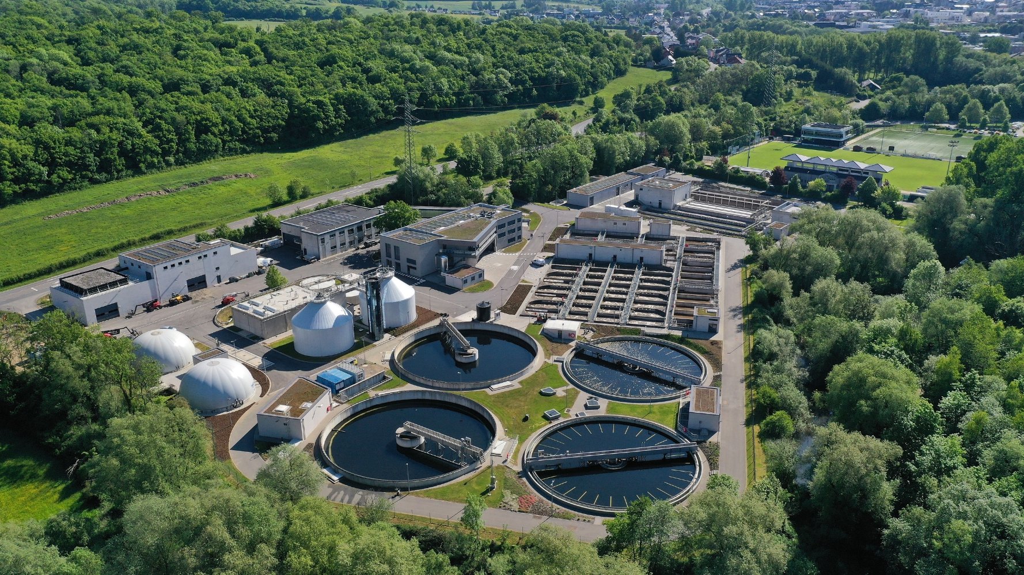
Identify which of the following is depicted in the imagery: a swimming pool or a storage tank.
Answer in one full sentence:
This aerial view contains a storage tank.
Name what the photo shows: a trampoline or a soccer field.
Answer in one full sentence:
It is a soccer field that can be seen here.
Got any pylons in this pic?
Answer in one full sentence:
Yes, there is a pylon in the image.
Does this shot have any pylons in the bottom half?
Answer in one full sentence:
No, the scene shows no pylon in the bottom half.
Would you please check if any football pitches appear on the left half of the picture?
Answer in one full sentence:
No, I see no football pitch on the left half of the picture.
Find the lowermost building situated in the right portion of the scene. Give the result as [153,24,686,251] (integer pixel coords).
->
[675,384,722,438]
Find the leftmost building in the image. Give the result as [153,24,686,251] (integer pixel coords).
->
[53,238,258,325]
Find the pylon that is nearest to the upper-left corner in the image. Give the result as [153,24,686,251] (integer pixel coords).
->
[388,94,421,194]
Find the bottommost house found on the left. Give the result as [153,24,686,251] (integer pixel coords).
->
[255,384,330,439]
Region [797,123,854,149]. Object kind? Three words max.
building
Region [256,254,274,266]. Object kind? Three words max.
vehicle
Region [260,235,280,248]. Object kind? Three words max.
vehicle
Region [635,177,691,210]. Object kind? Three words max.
building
